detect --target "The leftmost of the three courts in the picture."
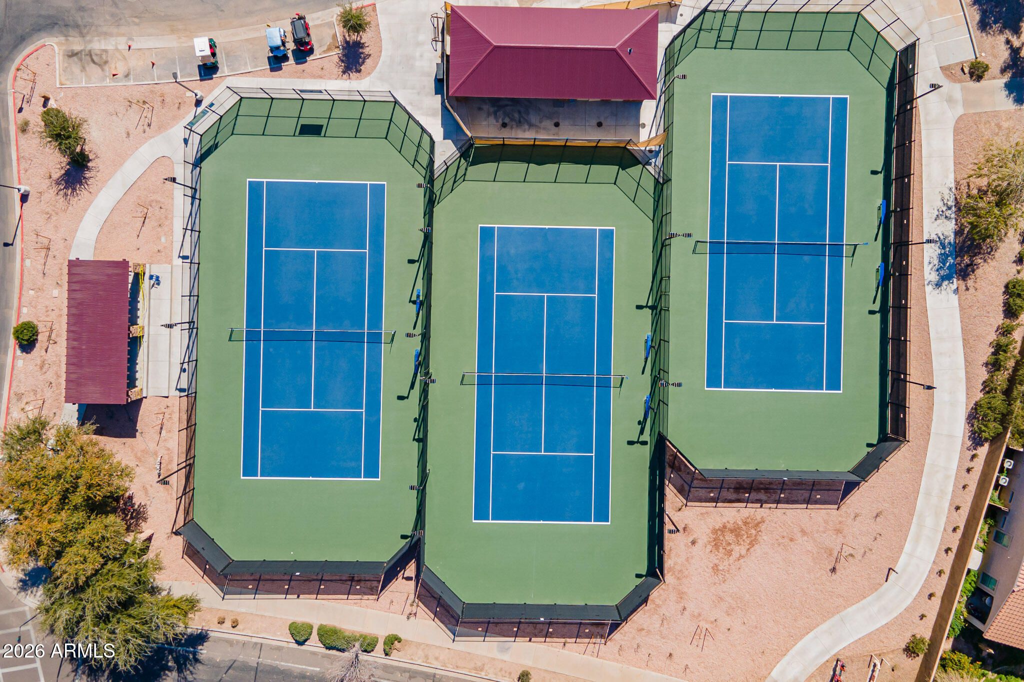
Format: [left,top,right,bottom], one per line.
[193,98,435,561]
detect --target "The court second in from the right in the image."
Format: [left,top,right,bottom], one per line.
[425,145,662,605]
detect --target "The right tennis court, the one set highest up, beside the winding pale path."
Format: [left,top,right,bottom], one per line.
[659,12,897,471]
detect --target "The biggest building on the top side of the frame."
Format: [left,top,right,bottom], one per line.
[449,5,660,105]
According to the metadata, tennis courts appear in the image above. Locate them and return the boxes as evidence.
[659,12,897,471]
[193,98,435,561]
[425,145,662,605]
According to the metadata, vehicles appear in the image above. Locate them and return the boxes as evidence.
[290,13,315,51]
[195,32,222,68]
[266,24,291,60]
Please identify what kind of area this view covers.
sports ground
